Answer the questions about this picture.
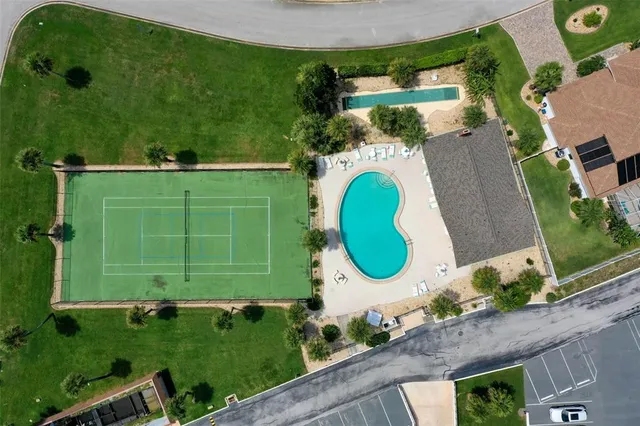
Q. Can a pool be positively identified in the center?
Yes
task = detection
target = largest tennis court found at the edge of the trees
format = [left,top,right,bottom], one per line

[62,171,312,302]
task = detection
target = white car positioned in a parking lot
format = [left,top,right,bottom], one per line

[549,404,586,422]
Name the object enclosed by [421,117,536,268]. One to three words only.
building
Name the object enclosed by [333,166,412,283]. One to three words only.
swimming pool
